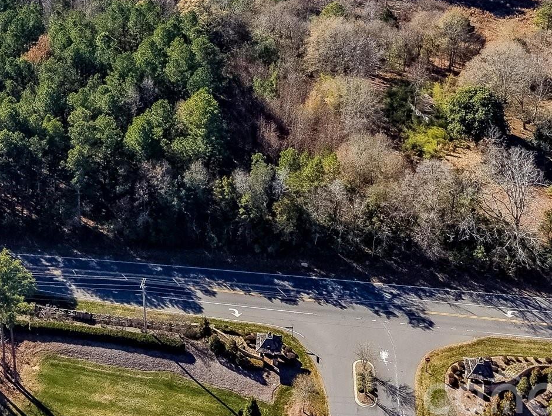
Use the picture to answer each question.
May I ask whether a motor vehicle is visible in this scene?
No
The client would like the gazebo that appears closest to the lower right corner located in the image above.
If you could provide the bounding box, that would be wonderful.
[463,354,498,395]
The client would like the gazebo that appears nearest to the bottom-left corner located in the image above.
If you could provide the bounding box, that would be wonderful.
[255,329,283,367]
